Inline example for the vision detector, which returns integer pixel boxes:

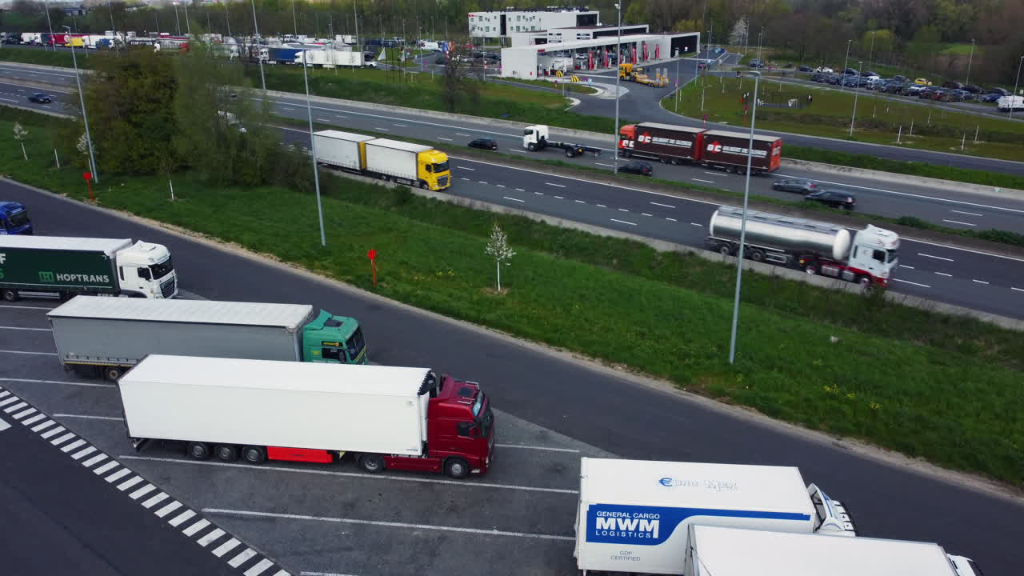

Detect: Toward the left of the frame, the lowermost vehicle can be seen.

[116,354,494,476]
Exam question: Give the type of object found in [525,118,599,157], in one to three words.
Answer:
truck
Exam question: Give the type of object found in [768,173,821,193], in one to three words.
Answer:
car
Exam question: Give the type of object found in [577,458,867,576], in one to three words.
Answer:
truck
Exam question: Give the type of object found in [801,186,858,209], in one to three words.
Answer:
car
